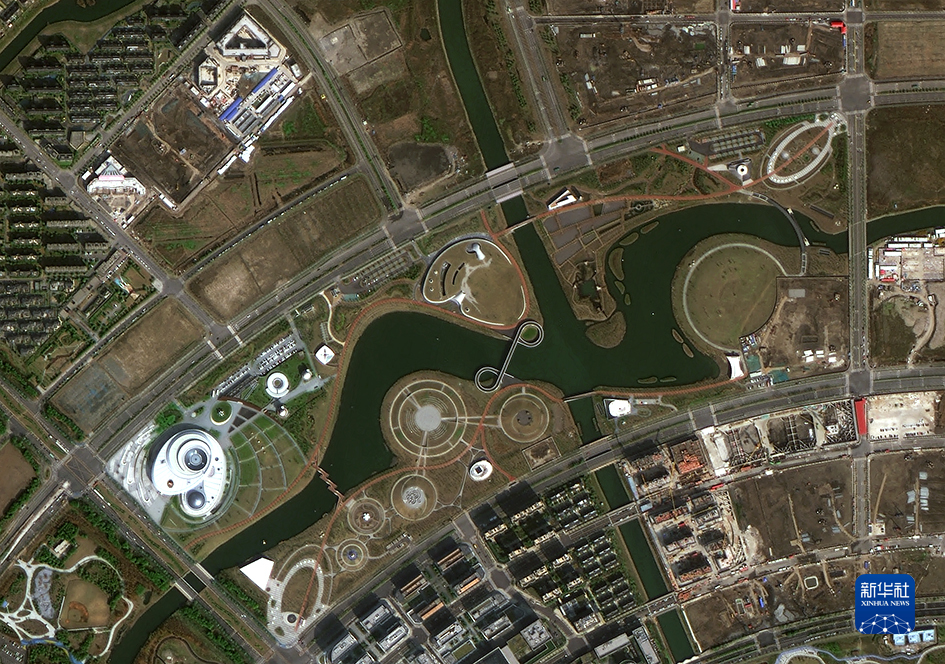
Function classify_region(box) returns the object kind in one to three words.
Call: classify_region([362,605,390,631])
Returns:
building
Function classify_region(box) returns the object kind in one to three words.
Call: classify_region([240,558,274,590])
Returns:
building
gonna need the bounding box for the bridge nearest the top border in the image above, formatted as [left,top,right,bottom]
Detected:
[484,163,528,202]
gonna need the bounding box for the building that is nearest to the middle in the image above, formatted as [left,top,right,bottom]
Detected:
[422,238,525,325]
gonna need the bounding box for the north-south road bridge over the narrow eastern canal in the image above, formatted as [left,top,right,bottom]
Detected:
[849,221,867,256]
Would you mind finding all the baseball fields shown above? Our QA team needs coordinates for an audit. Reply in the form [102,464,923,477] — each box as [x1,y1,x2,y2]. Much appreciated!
[64,575,111,631]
